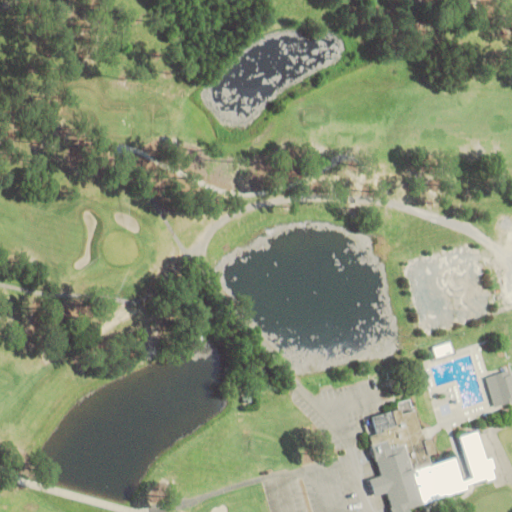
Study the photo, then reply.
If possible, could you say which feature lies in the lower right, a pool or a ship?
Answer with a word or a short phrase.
pool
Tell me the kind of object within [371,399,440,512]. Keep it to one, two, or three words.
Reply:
building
